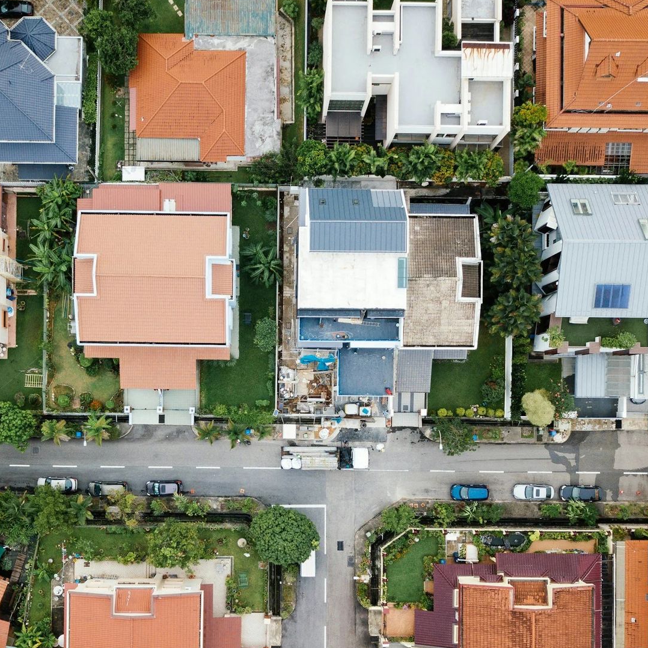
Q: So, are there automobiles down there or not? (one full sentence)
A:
Yes, looking at the shot, I can spot an automobile.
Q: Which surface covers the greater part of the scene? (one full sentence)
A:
What you mostly see from above here is buildings.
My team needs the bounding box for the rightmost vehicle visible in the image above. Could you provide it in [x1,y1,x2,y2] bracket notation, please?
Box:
[559,483,601,503]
